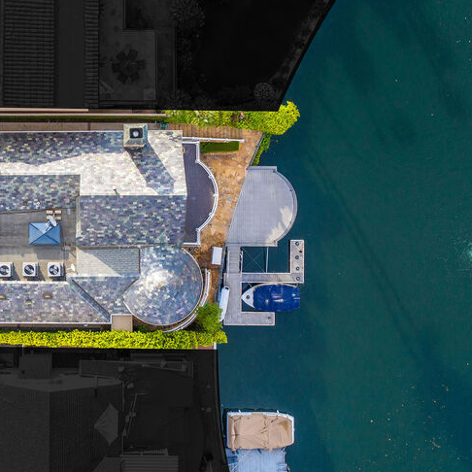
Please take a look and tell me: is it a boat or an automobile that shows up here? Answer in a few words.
boat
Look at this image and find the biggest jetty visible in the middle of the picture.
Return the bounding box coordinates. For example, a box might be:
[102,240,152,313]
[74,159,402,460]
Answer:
[224,239,306,326]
